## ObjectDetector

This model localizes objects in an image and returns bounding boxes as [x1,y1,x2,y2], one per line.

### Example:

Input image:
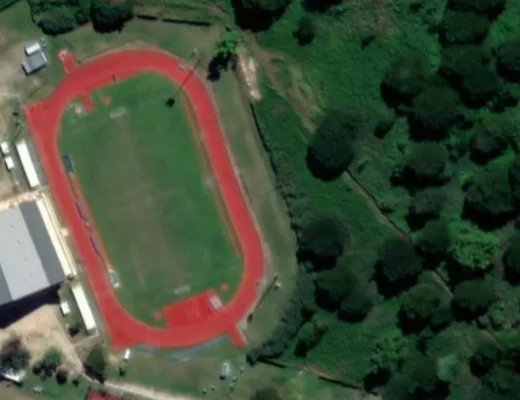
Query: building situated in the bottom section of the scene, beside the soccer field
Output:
[0,200,63,303]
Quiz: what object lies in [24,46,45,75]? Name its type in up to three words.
house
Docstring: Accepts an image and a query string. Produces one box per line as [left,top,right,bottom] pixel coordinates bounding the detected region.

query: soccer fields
[56,71,244,329]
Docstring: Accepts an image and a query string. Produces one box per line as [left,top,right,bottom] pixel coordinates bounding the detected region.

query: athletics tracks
[26,46,269,350]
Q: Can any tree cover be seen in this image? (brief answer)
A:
Yes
